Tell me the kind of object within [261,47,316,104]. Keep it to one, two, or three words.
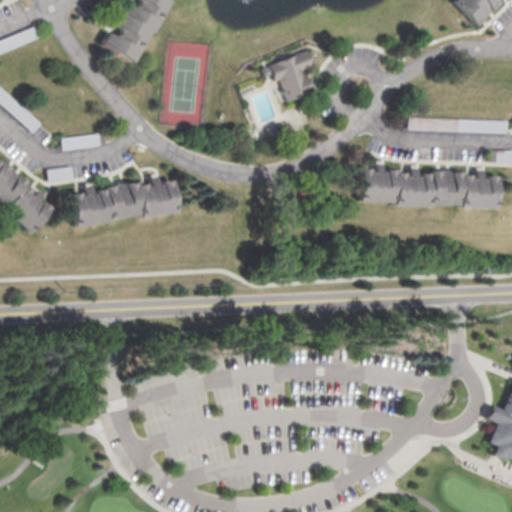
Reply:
building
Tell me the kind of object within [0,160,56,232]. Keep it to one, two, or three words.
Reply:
building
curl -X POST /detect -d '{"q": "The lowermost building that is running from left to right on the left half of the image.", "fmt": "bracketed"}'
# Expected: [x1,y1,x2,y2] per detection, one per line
[76,178,184,224]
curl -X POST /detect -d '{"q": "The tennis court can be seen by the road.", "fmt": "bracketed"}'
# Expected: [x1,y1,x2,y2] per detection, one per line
[161,42,208,127]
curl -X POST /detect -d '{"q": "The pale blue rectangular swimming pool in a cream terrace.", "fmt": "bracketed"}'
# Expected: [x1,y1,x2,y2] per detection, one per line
[240,73,309,140]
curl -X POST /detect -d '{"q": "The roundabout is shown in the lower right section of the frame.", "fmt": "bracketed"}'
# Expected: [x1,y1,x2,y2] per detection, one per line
[432,378,469,421]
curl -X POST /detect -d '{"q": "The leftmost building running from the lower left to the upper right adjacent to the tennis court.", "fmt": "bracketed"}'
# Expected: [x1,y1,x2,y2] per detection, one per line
[108,0,174,67]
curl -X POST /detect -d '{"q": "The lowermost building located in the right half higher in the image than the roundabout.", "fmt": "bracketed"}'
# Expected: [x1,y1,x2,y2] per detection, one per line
[362,168,506,210]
